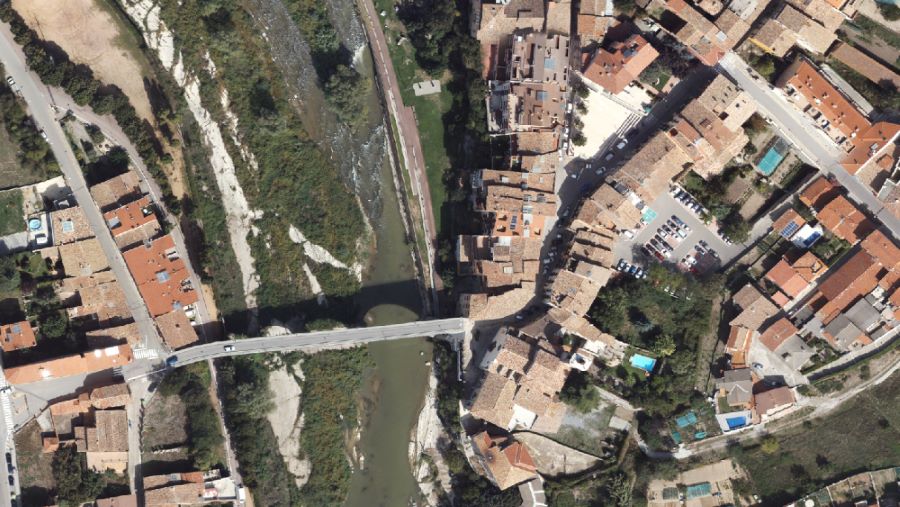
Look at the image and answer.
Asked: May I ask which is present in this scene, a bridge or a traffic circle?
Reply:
bridge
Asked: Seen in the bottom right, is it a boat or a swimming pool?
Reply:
swimming pool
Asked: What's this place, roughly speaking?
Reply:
residential area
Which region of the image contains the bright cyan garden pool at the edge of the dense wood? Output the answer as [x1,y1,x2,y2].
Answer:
[628,353,657,373]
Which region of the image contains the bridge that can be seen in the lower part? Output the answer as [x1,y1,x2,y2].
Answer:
[195,316,467,362]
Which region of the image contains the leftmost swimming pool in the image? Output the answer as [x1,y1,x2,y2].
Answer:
[28,213,49,245]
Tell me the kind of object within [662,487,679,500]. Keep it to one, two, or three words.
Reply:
swimming pool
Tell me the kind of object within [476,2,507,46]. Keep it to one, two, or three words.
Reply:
house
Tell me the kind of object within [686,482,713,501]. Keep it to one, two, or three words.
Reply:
swimming pool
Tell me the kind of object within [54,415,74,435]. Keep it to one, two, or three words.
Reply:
shed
